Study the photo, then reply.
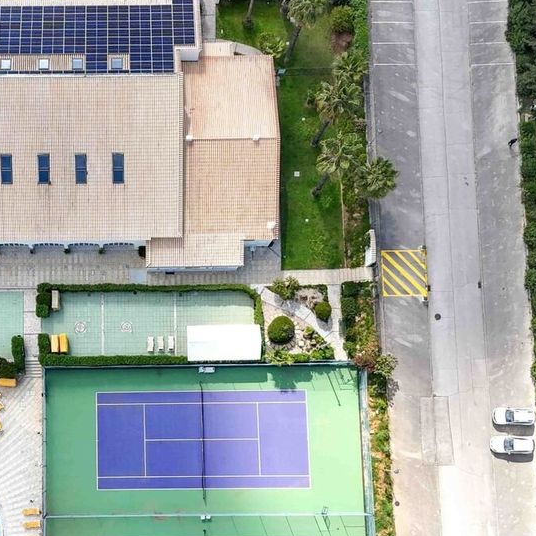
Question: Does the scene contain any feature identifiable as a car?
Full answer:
Yes, the frame does contain a car.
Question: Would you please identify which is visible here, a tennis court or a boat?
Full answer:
It is a tennis court that can be seen here.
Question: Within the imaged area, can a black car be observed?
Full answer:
No, I find no black car anywhere in the image.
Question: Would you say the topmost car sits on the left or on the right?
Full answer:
The topmost car sits on the right side.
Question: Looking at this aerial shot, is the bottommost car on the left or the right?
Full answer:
It is on the right.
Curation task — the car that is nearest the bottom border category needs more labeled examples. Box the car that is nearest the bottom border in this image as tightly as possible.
[490,436,536,457]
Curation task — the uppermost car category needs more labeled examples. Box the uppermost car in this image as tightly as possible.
[492,408,536,428]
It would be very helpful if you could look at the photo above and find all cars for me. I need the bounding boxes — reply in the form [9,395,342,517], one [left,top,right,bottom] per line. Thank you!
[490,436,536,457]
[492,408,536,428]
